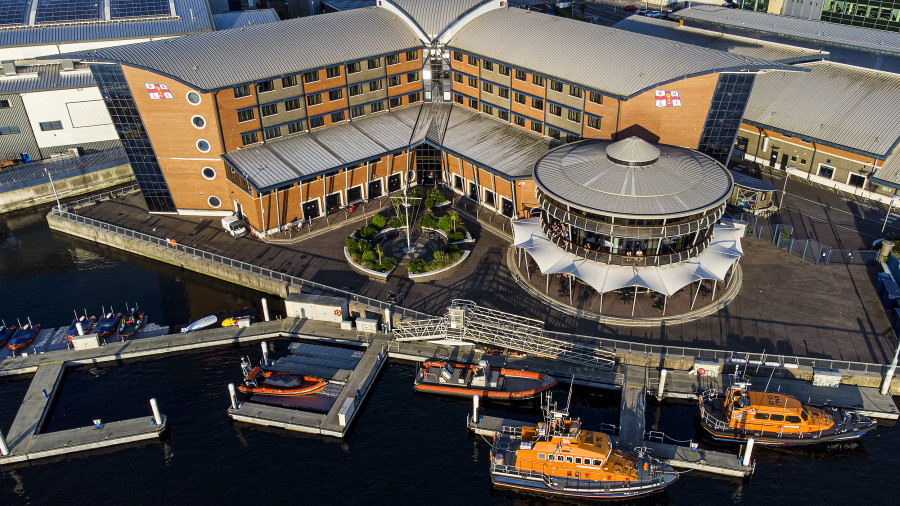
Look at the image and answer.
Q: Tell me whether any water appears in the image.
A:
Yes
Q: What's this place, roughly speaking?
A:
industrial area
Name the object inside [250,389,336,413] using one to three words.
pier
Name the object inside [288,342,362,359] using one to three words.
pier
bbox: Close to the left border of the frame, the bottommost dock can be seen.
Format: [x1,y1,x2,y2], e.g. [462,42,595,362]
[0,414,169,463]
